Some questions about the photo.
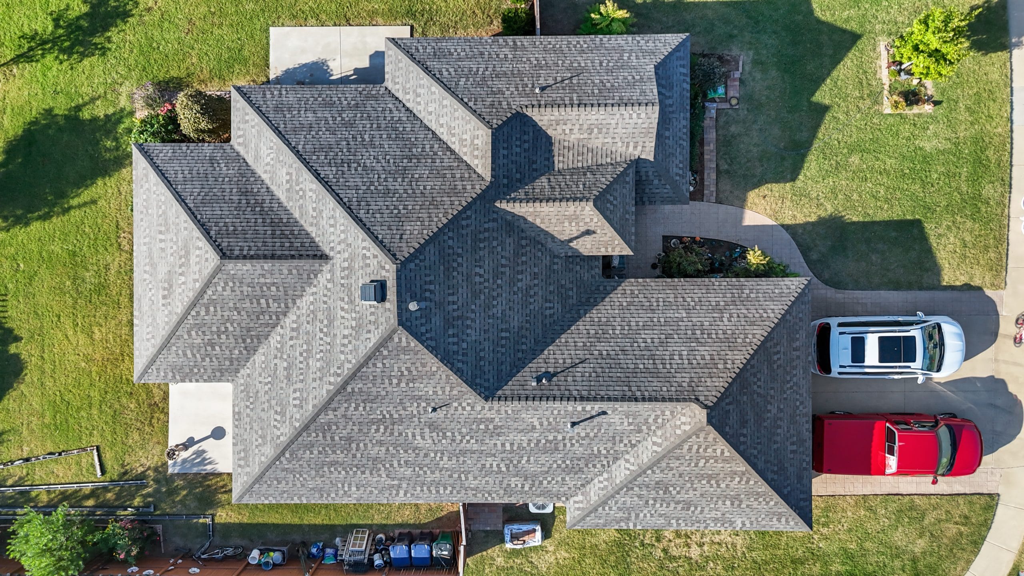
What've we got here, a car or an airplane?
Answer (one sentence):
The one in the frame is a car.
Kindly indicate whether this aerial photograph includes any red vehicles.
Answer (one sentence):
Yes, looking at the shot, I can spot a red vehicle.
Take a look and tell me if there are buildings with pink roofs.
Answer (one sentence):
No, there appears to be no building with a pink roof in this shot.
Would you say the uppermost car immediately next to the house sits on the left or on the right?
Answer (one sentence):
The uppermost car immediately next to the house sits on the right side.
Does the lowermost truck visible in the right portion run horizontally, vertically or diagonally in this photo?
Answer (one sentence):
The lowermost truck visible in the right portion runs horizontally in the image.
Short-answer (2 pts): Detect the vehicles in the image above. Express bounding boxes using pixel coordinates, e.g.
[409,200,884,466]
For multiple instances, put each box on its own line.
[812,407,982,488]
[812,309,966,385]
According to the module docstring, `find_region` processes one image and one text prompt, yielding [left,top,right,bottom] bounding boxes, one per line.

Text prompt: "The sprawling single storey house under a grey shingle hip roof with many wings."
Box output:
[131,35,813,532]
